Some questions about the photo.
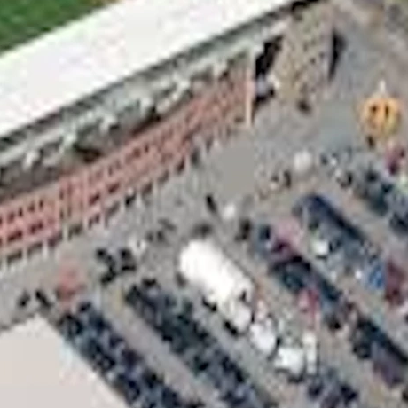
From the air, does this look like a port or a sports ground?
sports ground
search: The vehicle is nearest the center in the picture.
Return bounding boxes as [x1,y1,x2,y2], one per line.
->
[195,195,219,210]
